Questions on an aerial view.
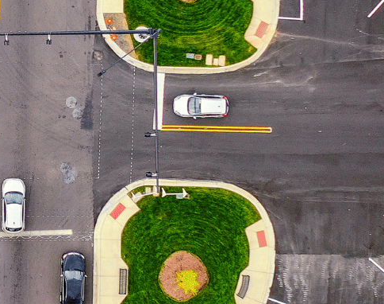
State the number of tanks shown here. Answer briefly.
0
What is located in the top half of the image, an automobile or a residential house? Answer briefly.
automobile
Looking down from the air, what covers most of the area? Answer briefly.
paved ground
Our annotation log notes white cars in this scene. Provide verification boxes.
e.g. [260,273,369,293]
[171,91,229,120]
[0,177,28,234]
